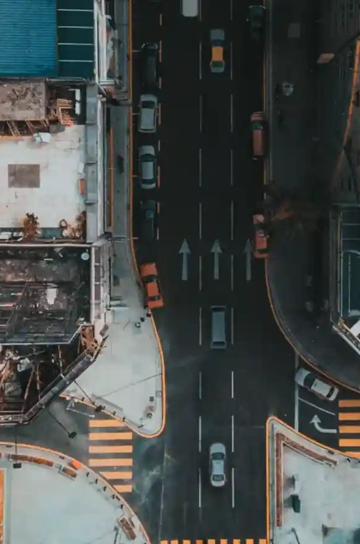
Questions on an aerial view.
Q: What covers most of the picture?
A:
paved ground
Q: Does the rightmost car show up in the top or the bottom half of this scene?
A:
bottom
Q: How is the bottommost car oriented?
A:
up and down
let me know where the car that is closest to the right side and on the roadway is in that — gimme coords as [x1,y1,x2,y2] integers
[295,369,339,402]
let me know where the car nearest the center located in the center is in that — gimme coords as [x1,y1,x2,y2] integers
[140,262,163,308]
